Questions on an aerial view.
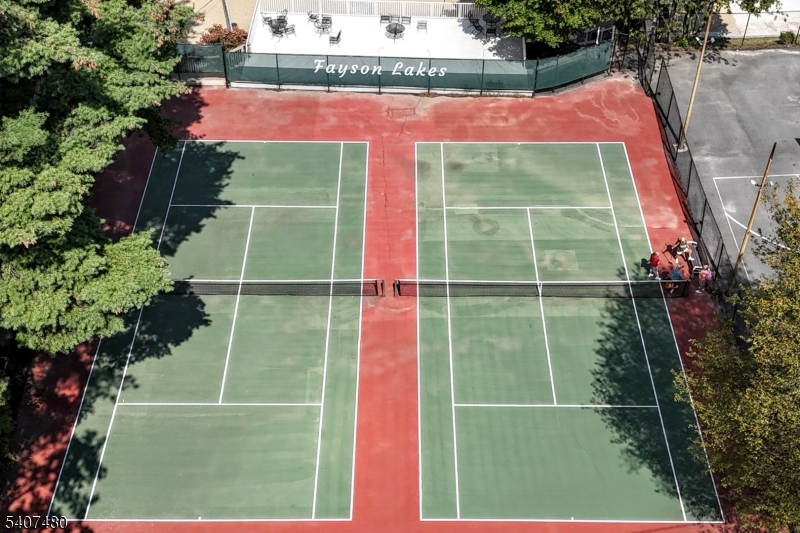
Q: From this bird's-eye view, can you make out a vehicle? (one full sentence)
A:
No, I can't see a single vehicle in this photo.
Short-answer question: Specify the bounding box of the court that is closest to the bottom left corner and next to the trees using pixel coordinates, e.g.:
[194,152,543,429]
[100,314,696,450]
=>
[47,141,368,520]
